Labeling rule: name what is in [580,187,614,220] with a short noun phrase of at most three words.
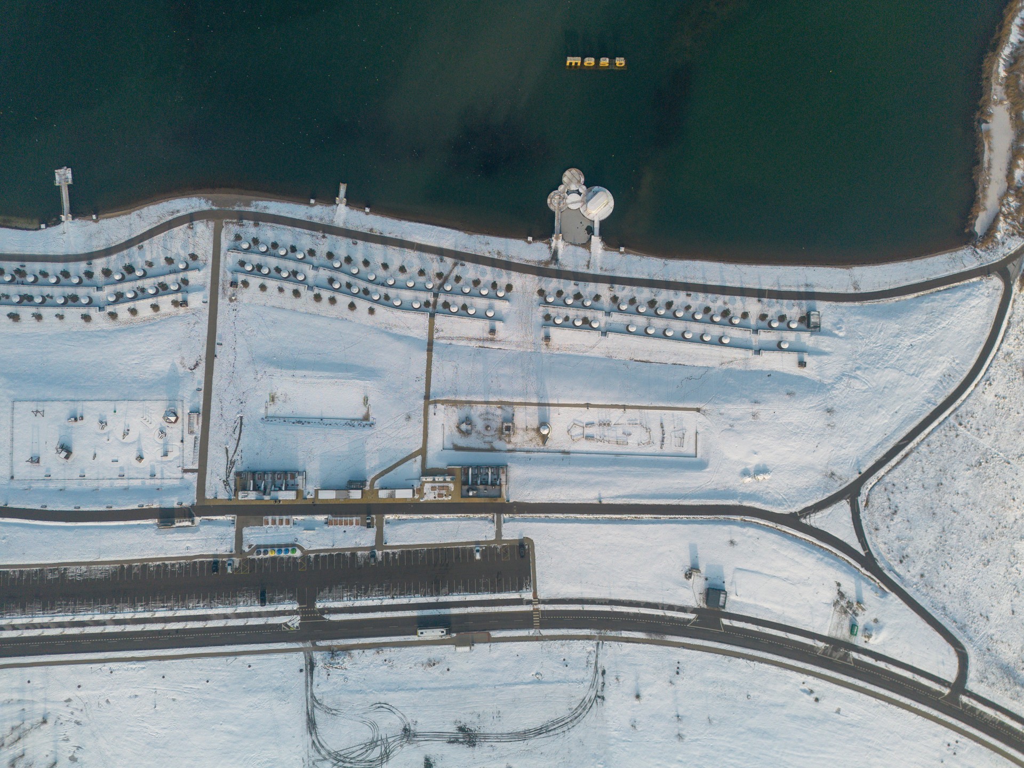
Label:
pier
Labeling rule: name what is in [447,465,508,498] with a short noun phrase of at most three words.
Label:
building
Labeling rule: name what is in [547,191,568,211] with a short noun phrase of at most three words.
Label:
pier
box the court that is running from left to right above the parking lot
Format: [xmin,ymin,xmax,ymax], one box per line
[265,396,371,422]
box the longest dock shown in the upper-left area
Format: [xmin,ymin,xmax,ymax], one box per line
[53,166,73,221]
